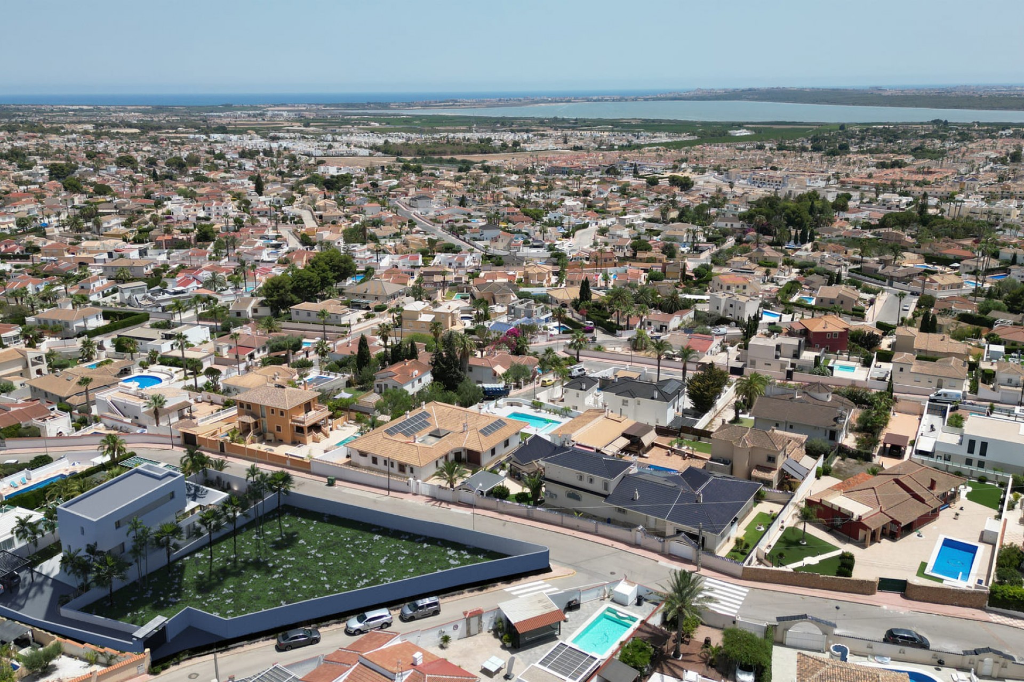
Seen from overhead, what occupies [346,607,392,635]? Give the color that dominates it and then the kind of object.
gray car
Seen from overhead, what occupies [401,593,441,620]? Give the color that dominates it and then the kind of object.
gray car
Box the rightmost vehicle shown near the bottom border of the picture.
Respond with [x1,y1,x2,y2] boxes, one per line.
[884,623,930,648]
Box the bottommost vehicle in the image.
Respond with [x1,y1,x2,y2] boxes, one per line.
[734,656,758,682]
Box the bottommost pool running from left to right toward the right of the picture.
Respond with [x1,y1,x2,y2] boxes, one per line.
[865,662,950,682]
